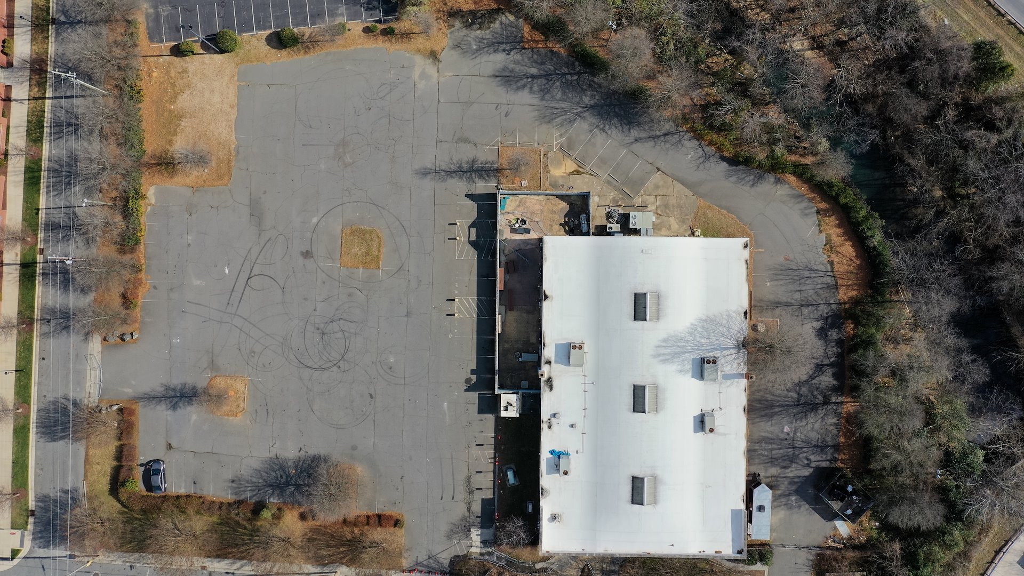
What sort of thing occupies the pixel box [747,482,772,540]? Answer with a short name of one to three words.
shed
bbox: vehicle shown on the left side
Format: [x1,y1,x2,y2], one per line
[147,460,165,493]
